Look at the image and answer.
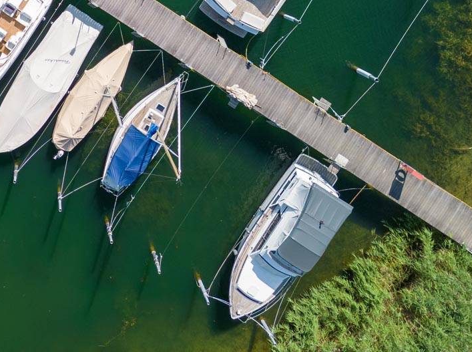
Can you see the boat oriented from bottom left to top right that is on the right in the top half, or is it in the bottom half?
bottom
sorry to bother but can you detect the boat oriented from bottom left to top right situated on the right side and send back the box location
[232,155,352,329]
